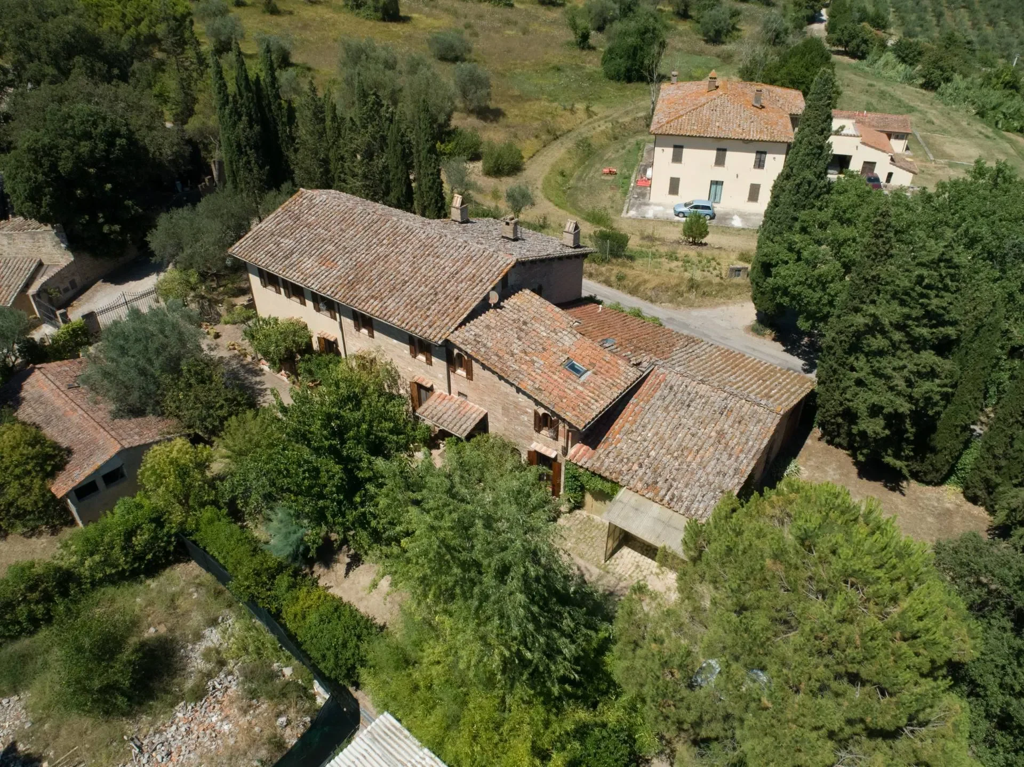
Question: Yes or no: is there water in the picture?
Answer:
No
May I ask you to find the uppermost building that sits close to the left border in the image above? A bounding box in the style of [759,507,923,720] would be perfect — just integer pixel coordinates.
[0,211,90,330]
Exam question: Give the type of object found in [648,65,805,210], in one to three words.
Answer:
house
